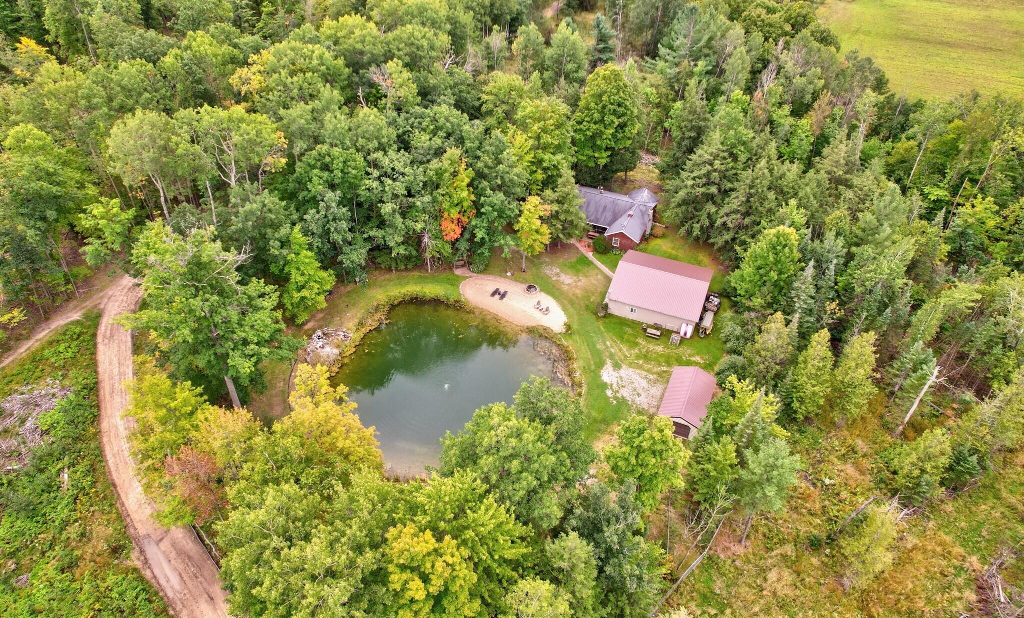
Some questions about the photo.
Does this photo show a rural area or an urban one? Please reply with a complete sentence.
It looks rural.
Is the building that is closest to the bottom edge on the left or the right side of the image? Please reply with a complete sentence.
The building that is closest to the bottom edge appears in the right half of the scene.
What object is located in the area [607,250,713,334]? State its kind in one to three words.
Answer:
barn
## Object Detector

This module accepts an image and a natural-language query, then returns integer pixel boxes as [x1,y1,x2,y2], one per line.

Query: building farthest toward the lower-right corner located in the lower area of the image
[656,366,715,441]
